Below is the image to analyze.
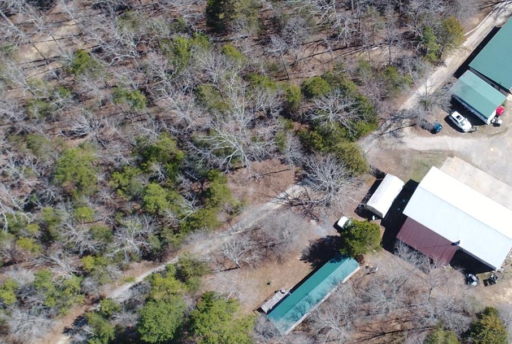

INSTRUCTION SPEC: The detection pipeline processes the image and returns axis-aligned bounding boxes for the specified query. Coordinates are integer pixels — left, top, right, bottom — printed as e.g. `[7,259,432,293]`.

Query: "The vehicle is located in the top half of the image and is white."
[450,110,474,131]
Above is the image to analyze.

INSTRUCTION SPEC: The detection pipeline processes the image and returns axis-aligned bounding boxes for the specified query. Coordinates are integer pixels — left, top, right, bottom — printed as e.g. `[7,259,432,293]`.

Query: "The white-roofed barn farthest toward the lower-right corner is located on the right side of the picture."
[402,166,512,275]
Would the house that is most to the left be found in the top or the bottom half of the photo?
bottom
